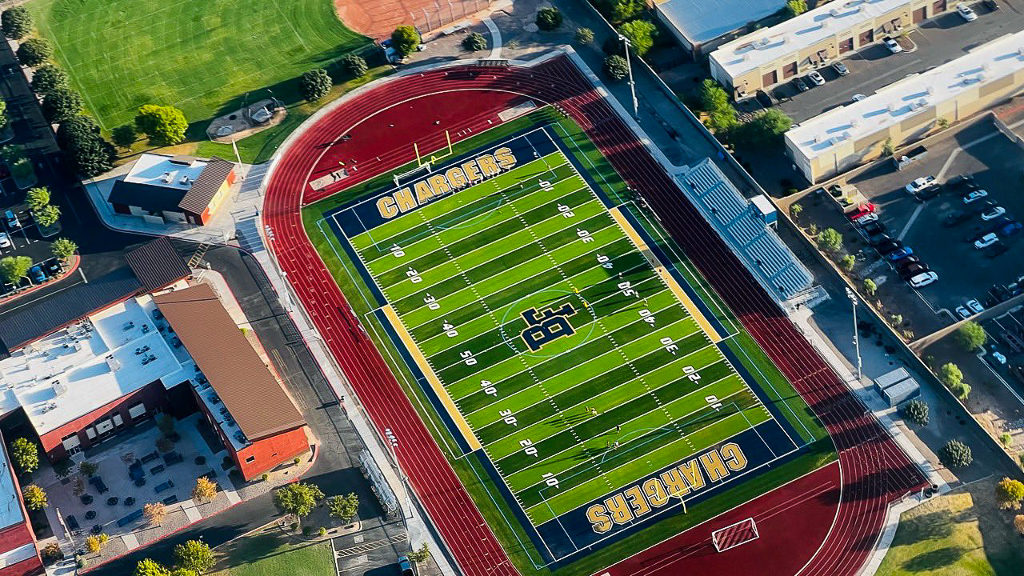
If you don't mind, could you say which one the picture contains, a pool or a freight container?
freight container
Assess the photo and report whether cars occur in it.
Yes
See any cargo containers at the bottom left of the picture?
No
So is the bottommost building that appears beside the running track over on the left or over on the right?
left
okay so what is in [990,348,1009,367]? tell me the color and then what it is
blue car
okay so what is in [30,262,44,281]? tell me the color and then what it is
blue car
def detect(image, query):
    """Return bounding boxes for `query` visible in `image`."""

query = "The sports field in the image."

[301,105,839,576]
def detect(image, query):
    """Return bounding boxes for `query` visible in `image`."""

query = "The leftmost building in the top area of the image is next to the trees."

[106,151,236,225]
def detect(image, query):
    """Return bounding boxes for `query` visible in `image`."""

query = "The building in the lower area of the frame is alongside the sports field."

[0,236,311,482]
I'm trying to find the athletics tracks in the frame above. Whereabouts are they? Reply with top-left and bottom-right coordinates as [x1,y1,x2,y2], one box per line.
[261,55,930,576]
